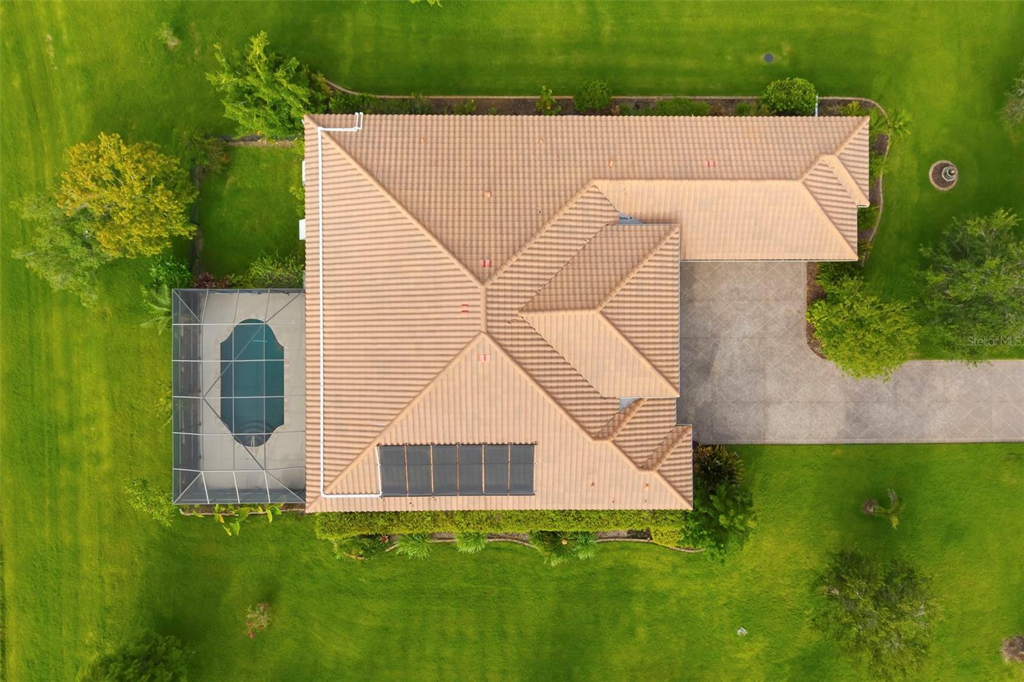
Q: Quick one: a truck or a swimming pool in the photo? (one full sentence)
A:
Visible in the photo is a swimming pool.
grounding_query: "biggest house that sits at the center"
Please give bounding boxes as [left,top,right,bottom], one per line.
[302,113,872,514]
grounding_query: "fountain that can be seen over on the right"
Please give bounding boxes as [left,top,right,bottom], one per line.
[941,166,959,181]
